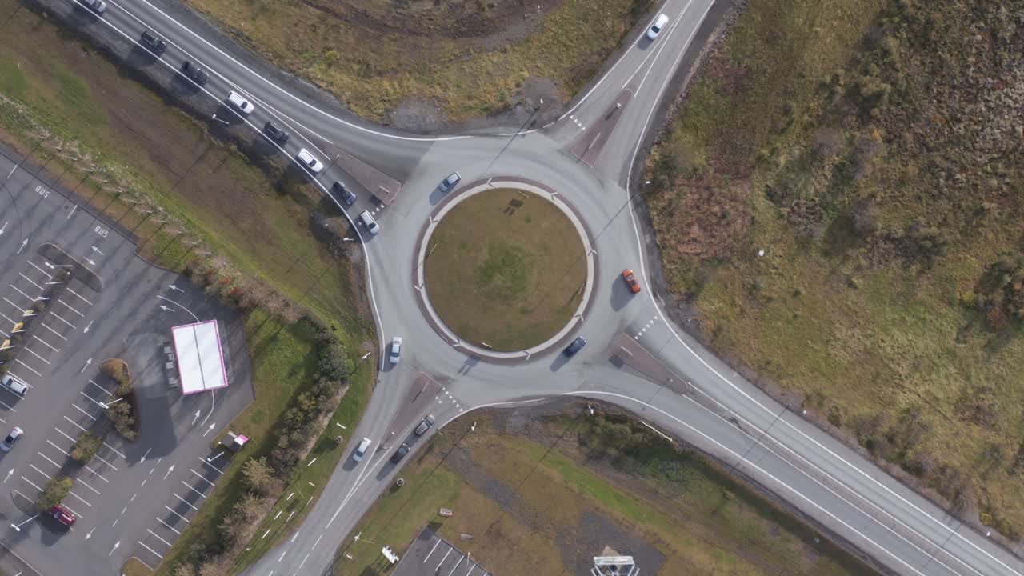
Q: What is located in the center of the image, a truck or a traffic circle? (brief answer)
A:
traffic circle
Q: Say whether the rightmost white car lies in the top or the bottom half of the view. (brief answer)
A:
top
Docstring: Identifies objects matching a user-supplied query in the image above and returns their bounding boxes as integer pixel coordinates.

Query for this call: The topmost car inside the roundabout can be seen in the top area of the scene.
[439,171,461,192]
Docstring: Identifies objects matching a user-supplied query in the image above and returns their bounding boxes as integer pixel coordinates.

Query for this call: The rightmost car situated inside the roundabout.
[622,268,640,294]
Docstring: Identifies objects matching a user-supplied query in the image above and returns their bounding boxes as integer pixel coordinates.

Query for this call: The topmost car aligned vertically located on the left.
[389,337,403,364]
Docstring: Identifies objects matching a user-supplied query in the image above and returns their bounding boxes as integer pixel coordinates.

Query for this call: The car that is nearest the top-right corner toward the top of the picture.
[647,12,669,41]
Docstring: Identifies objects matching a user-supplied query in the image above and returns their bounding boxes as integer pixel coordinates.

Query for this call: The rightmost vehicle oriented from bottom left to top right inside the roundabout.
[563,336,585,358]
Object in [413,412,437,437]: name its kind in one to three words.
car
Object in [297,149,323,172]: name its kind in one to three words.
car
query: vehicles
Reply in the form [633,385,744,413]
[439,171,461,192]
[413,412,437,437]
[262,121,289,144]
[226,90,255,114]
[2,374,30,395]
[333,180,357,205]
[81,0,109,14]
[622,268,640,294]
[389,337,403,364]
[647,12,669,41]
[359,209,381,235]
[50,507,78,527]
[181,61,210,85]
[389,442,411,465]
[353,435,373,462]
[297,149,323,172]
[563,336,585,358]
[139,30,169,54]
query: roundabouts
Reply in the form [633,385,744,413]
[357,118,659,412]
